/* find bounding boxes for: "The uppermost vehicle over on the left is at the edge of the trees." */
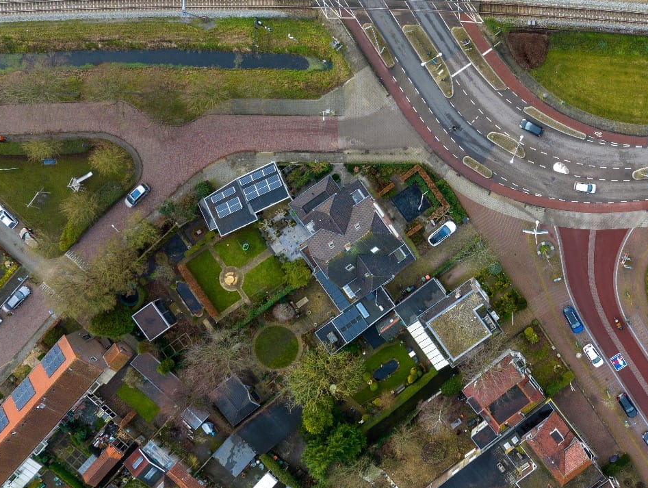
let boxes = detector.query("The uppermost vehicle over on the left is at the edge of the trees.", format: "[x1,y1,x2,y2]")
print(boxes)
[125,181,151,208]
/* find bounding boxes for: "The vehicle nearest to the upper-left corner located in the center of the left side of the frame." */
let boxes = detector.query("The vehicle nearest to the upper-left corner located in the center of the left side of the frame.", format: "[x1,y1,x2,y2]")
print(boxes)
[0,204,19,229]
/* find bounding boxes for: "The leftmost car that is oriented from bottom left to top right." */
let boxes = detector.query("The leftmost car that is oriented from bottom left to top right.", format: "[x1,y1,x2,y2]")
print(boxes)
[2,286,31,311]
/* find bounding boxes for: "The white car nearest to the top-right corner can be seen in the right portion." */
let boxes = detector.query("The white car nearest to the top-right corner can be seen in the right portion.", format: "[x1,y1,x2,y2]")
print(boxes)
[572,181,598,195]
